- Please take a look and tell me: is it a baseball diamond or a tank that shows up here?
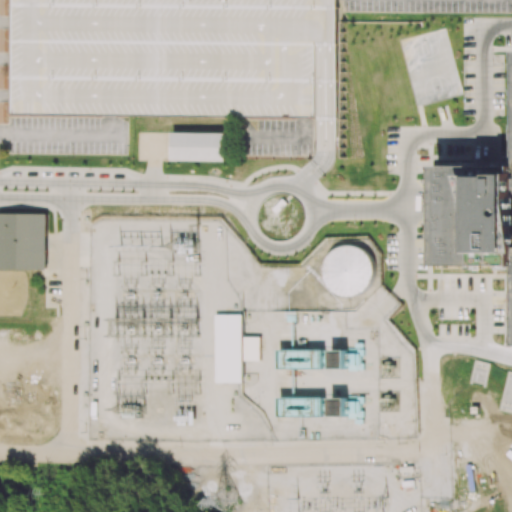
tank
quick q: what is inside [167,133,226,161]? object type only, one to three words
building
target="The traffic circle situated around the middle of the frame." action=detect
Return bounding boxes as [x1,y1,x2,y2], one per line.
[245,178,320,256]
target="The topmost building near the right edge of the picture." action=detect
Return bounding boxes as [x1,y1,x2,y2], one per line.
[424,166,512,266]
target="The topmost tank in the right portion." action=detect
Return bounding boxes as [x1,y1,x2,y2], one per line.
[324,244,378,298]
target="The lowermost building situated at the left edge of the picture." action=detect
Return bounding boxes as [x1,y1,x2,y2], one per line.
[0,214,50,270]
